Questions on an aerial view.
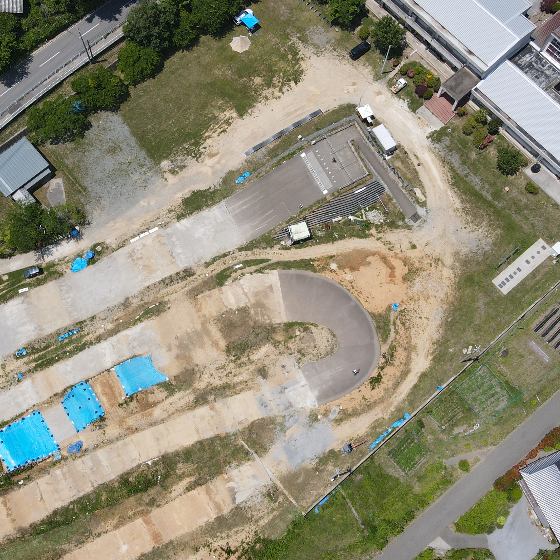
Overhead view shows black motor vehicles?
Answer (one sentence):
Yes, there's a black motor vehicle here.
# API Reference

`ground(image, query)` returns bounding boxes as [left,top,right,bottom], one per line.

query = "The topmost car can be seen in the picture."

[231,6,255,28]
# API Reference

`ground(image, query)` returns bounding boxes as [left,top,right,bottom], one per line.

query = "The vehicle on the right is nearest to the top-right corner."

[389,74,409,93]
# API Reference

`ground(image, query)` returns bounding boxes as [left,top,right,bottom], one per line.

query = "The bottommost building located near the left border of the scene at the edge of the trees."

[0,137,50,212]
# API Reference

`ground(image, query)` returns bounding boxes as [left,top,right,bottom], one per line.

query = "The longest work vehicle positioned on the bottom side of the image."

[339,439,370,457]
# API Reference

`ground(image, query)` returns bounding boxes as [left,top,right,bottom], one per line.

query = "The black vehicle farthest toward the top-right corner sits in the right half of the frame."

[348,39,372,59]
